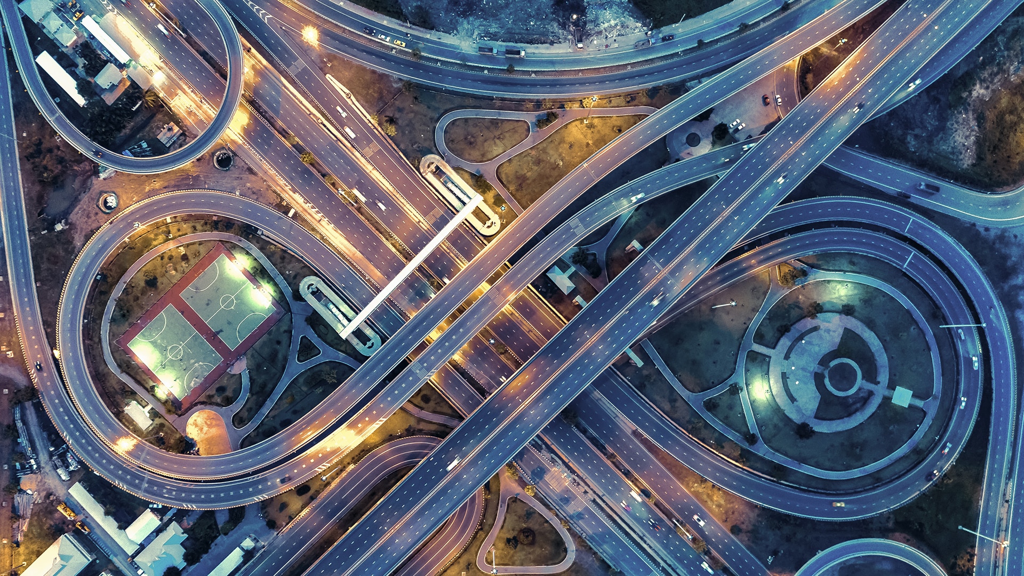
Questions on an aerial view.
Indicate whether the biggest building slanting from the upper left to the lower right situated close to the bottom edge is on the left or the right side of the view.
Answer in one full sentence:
The biggest building slanting from the upper left to the lower right situated close to the bottom edge is on the left side of the image.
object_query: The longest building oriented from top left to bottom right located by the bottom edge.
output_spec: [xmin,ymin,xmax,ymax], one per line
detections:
[68,481,142,556]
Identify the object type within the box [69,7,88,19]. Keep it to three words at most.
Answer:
vehicle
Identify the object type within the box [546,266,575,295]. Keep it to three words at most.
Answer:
building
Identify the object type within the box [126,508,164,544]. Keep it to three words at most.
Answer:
house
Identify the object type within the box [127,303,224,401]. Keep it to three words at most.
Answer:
sports court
